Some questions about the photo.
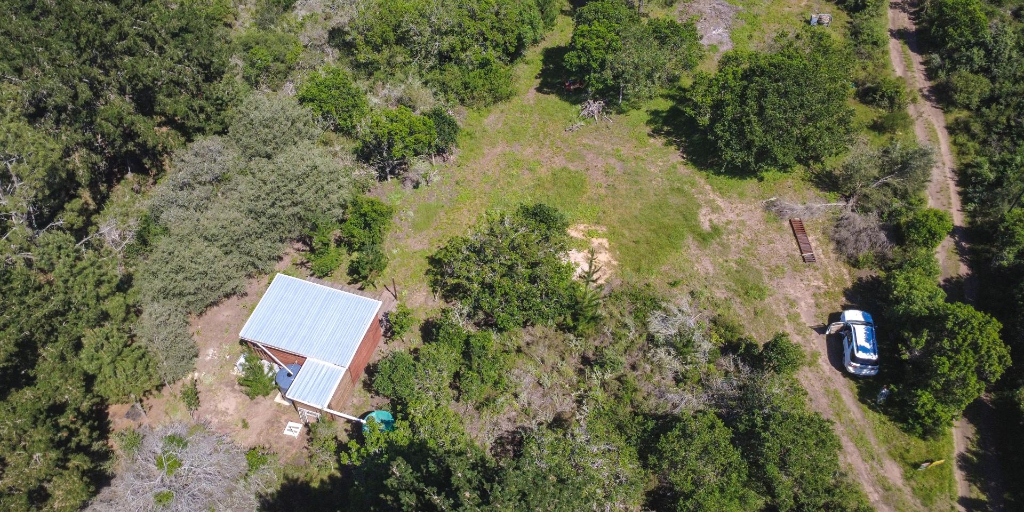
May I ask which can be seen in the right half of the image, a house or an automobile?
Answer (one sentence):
The one visible in the right half of the image is an automobile.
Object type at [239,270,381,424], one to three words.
house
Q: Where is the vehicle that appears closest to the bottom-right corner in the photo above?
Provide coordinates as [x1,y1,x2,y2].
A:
[826,310,880,379]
